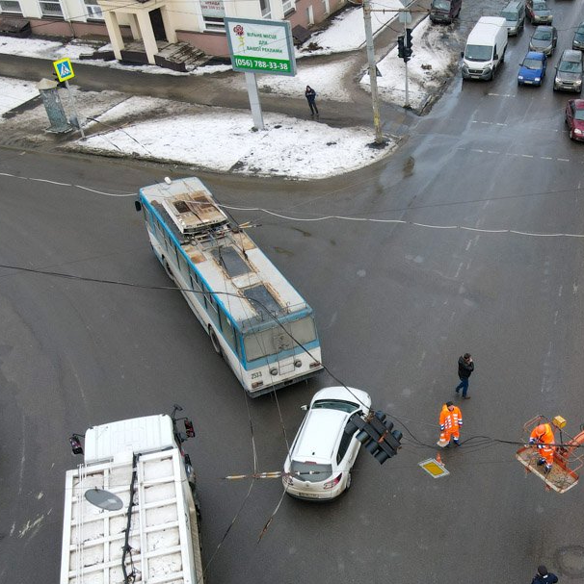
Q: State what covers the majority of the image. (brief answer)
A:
paved ground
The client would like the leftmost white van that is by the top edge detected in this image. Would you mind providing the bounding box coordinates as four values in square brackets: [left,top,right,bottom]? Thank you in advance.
[464,17,510,80]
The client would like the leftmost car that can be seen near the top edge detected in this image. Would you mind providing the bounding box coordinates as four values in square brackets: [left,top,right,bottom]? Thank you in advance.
[431,0,461,22]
